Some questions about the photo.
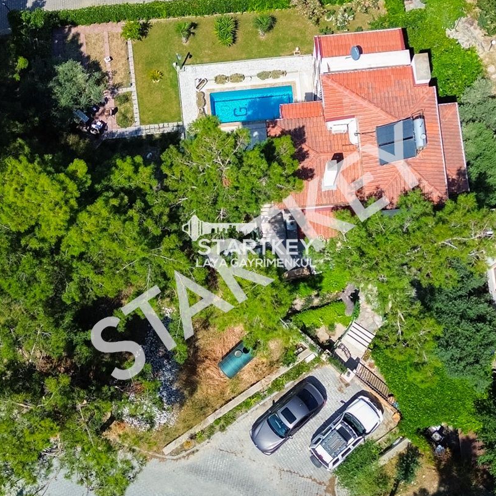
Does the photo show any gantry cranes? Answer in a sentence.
No, there's no gantry crane here.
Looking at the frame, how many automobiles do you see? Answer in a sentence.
Altogether the scene contains 2 automobiles.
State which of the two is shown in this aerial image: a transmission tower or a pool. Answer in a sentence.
This aerial view contains a pool.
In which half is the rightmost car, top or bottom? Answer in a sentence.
Seen from above, the rightmost car lies in the bottom half of the view.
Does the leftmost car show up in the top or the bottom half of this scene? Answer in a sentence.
The leftmost car is in the bottom half of the image.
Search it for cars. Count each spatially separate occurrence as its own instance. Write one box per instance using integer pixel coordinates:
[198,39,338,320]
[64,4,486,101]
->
[250,373,330,457]
[308,393,387,476]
